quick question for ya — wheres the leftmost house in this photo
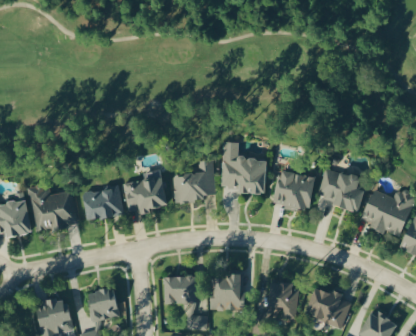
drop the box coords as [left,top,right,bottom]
[0,197,32,236]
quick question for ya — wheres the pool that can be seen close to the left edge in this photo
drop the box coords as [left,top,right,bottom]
[0,178,20,200]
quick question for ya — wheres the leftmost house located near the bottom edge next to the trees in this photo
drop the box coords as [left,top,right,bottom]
[37,299,76,336]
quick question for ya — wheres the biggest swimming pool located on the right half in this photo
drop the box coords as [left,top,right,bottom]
[379,176,401,196]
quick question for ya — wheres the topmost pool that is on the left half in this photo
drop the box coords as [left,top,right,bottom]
[135,152,162,174]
